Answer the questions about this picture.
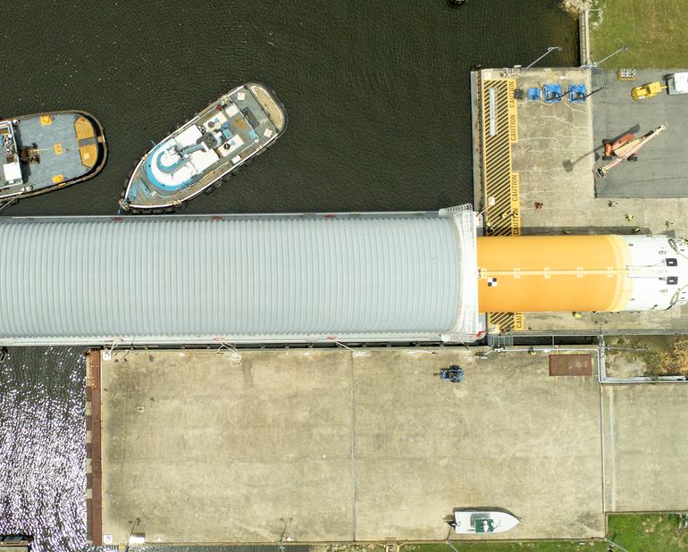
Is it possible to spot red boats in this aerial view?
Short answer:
No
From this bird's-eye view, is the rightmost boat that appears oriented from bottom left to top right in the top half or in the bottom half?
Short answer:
top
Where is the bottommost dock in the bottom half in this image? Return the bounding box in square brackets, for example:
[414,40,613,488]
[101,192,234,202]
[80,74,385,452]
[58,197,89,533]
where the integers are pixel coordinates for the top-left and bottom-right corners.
[86,341,605,545]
